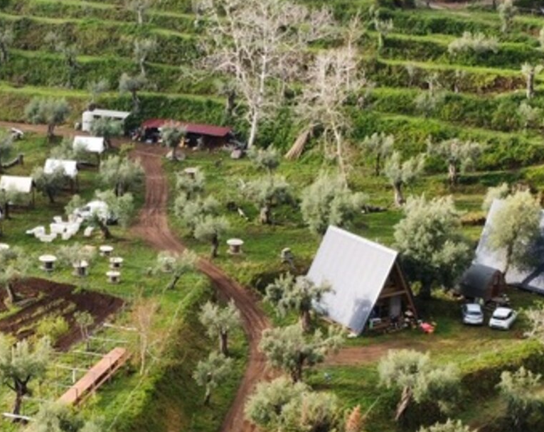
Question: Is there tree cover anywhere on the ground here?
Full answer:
Yes, there is tree cover in the image.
